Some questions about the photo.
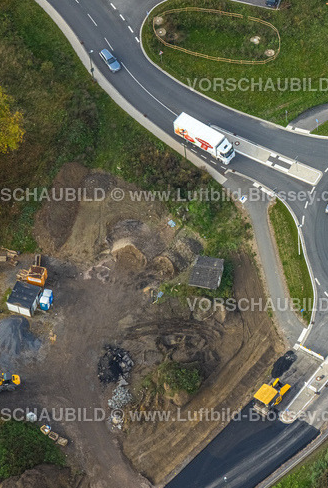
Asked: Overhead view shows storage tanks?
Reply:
No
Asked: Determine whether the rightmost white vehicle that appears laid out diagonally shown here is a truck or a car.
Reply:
truck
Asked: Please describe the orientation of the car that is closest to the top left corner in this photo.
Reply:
at an angle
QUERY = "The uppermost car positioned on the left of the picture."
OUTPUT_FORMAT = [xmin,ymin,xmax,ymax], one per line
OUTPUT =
[99,48,120,72]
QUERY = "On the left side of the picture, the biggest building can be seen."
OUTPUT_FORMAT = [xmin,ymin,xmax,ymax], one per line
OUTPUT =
[7,280,44,322]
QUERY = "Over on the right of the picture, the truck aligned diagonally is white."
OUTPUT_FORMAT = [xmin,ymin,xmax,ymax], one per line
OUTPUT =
[175,112,238,166]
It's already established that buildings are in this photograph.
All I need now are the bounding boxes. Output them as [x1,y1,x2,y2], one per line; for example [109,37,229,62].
[188,256,224,292]
[7,280,44,322]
